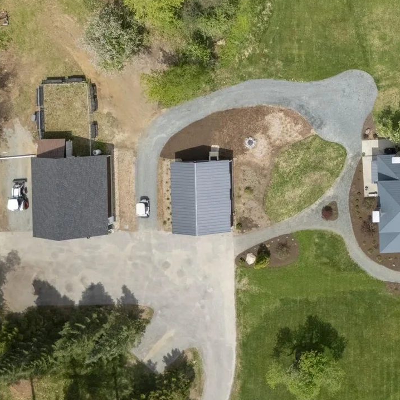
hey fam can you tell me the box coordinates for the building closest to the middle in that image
[170,160,235,236]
